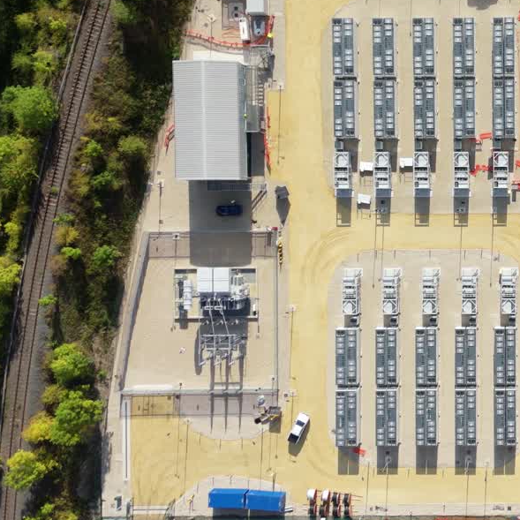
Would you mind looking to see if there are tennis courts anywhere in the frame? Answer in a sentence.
No, there is no tennis court in the image.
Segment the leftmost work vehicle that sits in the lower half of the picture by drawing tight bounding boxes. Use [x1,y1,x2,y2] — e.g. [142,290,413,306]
[256,406,280,428]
